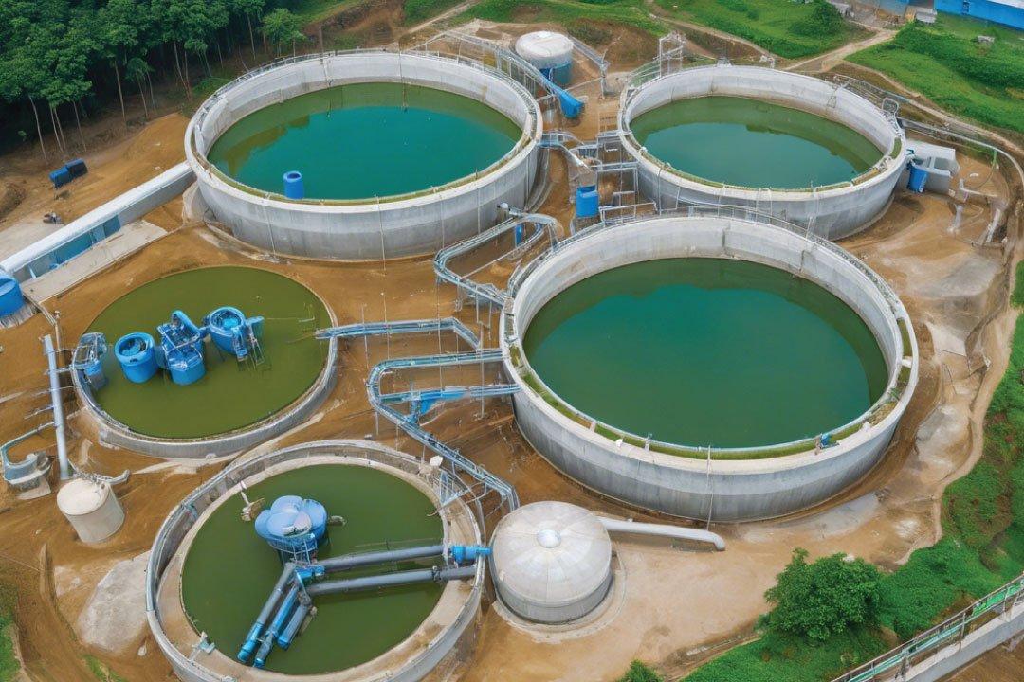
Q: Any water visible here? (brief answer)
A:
Yes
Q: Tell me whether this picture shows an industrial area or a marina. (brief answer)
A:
industrial area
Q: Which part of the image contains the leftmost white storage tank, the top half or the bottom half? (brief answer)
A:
bottom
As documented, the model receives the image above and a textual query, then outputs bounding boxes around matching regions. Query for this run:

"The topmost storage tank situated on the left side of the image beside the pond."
[183,39,538,265]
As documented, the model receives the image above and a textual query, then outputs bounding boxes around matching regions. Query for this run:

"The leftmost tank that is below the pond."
[57,475,131,552]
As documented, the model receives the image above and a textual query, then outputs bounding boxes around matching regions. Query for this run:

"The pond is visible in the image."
[69,272,342,461]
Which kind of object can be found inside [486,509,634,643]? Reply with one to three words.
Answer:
storage tank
